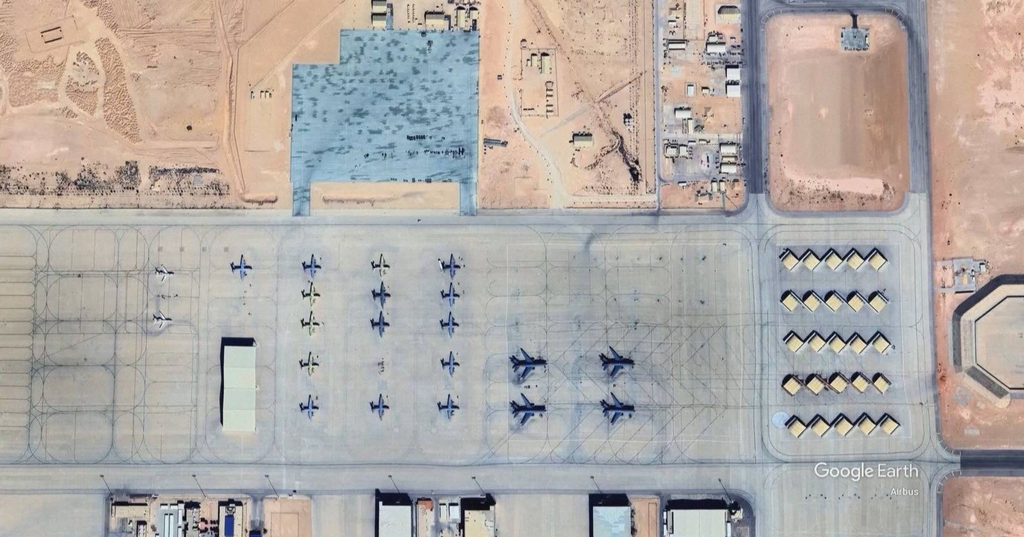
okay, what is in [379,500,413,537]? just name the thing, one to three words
hangar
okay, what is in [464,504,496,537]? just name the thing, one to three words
hangar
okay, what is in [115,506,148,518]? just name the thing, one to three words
building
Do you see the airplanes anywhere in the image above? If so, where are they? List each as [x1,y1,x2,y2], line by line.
[299,353,319,379]
[300,283,320,309]
[370,255,390,281]
[600,347,635,379]
[440,395,459,421]
[600,392,634,424]
[441,255,460,281]
[370,313,389,338]
[371,283,390,309]
[369,395,389,421]
[440,283,459,309]
[299,396,318,422]
[232,256,252,282]
[301,255,321,281]
[153,264,173,281]
[510,348,547,379]
[440,353,459,378]
[439,312,459,338]
[151,311,171,328]
[511,392,546,424]
[300,312,319,338]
